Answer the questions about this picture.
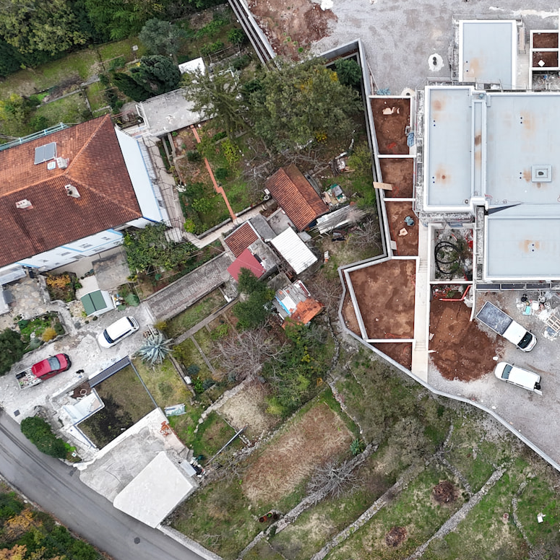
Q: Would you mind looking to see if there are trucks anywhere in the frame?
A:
Yes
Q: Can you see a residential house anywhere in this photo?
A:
Yes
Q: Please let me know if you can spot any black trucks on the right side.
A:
No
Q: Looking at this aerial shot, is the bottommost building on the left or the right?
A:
left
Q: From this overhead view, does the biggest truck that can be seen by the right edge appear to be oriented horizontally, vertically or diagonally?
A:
diagonally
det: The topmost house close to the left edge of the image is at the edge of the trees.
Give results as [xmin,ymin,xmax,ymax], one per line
[0,114,175,280]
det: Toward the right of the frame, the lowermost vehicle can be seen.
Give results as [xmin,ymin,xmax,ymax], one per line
[493,362,545,396]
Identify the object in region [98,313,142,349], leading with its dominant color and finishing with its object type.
white car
